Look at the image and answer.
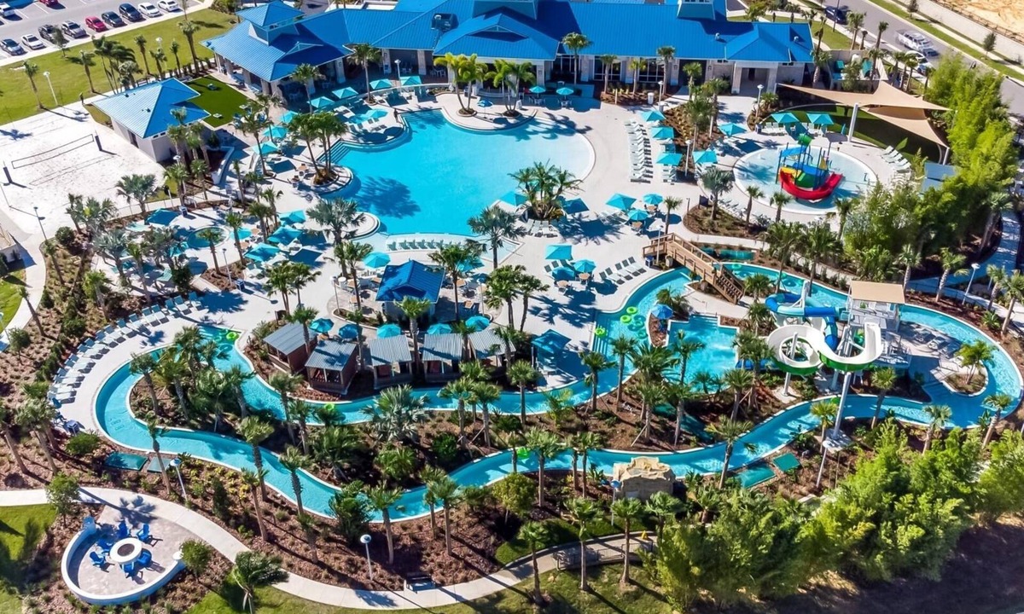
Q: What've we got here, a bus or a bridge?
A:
bridge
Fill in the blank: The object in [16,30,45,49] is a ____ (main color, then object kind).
white car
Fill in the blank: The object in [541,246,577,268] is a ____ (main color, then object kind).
blue umbrella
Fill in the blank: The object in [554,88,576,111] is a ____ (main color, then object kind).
blue umbrella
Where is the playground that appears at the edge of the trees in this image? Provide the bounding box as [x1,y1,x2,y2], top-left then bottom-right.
[775,128,844,199]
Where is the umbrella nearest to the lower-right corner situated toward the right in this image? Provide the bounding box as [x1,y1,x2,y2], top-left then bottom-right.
[645,307,677,340]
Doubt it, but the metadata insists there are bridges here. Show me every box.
[642,232,746,304]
